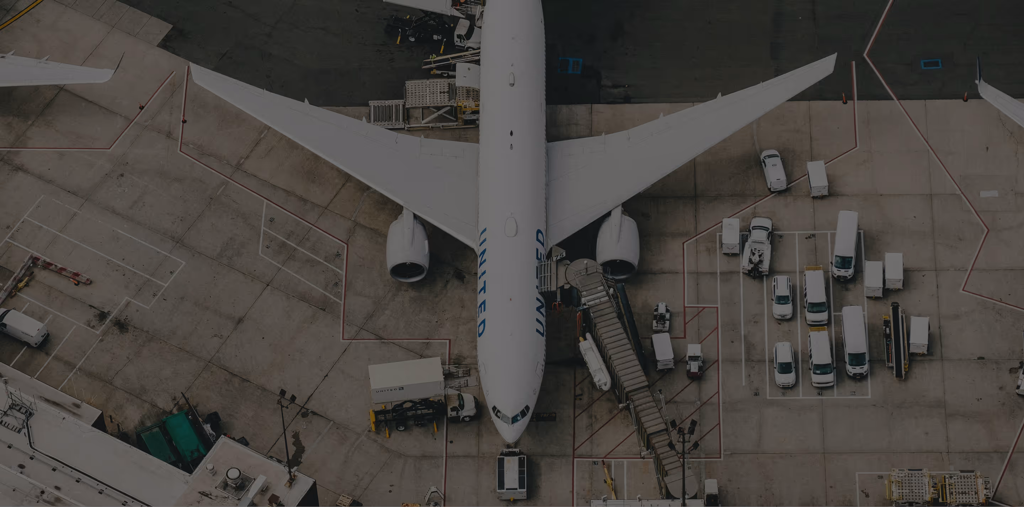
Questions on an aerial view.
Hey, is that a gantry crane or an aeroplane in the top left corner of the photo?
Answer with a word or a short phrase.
aeroplane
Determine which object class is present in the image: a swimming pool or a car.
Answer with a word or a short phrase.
car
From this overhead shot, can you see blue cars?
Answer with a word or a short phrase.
No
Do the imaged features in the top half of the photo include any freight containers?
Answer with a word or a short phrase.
No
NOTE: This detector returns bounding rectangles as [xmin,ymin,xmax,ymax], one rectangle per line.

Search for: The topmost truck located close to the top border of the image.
[375,0,483,49]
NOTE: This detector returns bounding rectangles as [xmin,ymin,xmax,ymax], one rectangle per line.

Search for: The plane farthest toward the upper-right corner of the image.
[975,56,1024,126]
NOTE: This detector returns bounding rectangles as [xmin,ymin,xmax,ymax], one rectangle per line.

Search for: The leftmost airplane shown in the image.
[0,49,125,86]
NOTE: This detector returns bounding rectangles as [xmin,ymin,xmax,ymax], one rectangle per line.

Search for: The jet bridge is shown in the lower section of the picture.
[540,245,699,499]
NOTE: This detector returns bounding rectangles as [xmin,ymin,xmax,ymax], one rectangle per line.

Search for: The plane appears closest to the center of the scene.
[190,0,837,445]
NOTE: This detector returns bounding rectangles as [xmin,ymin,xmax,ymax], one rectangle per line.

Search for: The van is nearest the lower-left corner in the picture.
[0,310,46,351]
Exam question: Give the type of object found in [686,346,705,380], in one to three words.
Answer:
work vehicle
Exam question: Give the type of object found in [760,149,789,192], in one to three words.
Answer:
car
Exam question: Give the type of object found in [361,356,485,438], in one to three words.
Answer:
truck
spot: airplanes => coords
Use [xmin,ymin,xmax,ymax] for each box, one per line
[0,49,125,86]
[975,56,1024,126]
[190,0,837,445]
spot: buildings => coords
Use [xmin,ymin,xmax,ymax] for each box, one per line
[590,498,705,507]
[0,361,317,507]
